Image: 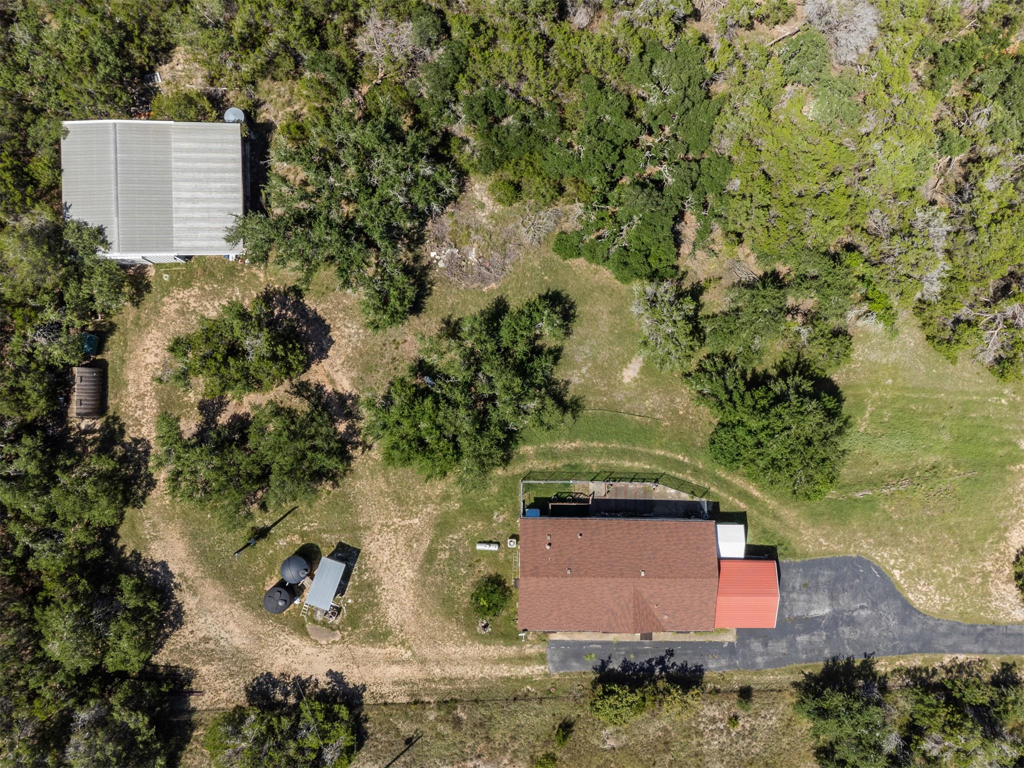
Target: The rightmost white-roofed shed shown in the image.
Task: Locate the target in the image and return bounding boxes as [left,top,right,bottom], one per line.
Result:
[717,521,745,558]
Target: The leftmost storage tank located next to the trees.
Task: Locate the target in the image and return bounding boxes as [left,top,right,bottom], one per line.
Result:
[224,105,253,134]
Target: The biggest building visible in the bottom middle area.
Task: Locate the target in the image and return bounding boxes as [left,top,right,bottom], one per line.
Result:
[518,517,719,634]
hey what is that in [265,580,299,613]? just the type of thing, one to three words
water tank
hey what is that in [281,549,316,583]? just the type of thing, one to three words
water tank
